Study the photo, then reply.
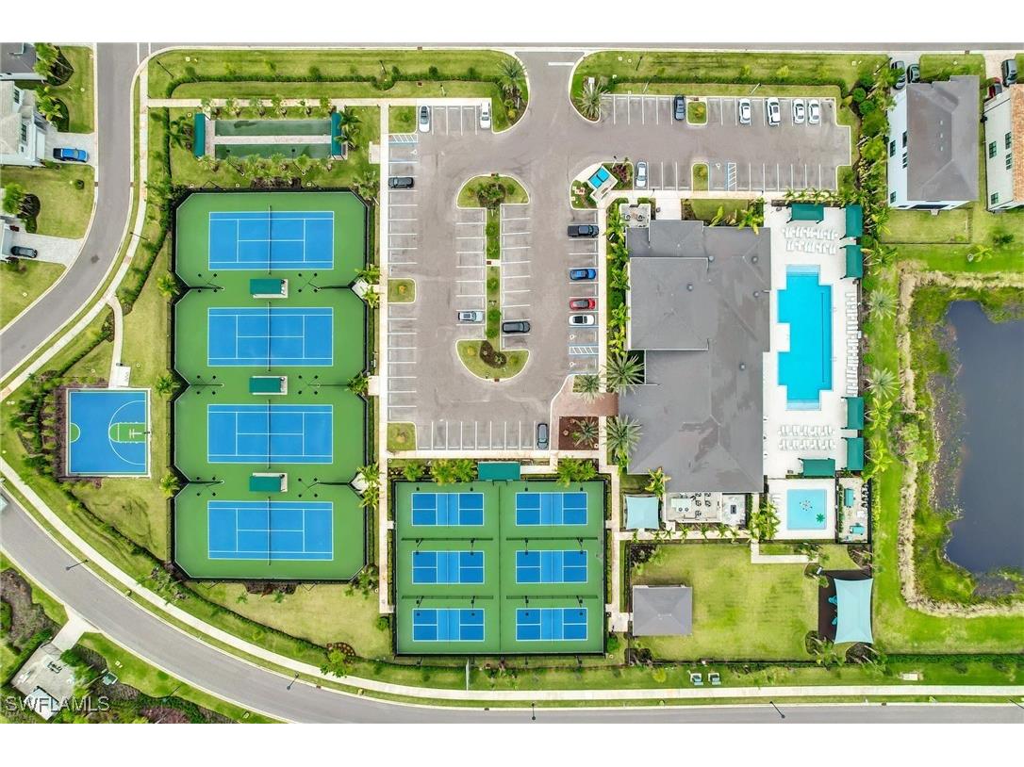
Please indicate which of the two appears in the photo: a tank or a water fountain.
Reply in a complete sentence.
The image shows a water fountain.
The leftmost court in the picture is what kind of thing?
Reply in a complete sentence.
Specifically, the leftmost court is a basketball court.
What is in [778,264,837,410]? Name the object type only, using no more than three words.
swimming pool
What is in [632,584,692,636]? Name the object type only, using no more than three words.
building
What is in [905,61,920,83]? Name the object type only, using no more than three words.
car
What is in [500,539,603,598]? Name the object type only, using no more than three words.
sports court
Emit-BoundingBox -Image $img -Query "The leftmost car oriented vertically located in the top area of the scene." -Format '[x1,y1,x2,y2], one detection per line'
[417,105,430,132]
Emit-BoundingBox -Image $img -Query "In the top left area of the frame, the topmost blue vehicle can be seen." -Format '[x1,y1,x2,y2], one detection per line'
[53,148,89,163]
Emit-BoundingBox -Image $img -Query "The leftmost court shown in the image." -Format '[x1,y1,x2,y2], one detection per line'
[66,388,151,477]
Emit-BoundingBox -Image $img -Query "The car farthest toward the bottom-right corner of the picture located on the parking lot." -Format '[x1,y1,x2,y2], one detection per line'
[536,423,549,448]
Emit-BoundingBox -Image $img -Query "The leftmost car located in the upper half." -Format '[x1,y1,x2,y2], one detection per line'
[11,246,40,258]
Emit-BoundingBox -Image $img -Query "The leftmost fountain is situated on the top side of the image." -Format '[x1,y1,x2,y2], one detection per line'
[587,169,616,198]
